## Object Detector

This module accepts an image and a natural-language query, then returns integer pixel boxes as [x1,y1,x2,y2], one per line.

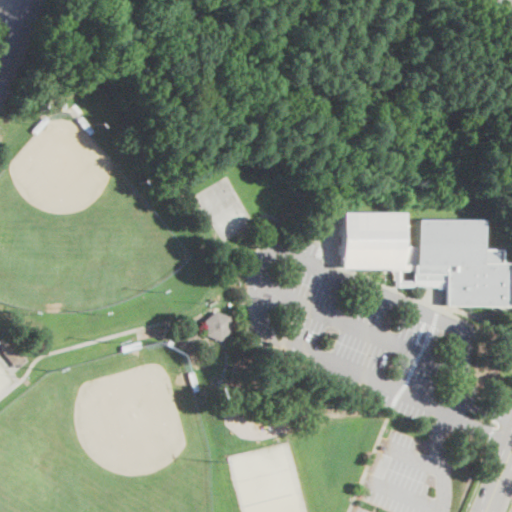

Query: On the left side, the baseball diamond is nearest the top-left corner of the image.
[0,114,190,313]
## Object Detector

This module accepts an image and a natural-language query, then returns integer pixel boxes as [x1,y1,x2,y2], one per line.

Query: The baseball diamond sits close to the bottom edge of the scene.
[0,346,210,512]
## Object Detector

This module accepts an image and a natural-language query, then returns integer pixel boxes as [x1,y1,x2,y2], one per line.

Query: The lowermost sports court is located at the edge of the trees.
[228,442,306,512]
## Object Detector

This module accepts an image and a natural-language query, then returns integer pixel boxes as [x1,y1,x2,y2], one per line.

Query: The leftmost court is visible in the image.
[196,177,251,242]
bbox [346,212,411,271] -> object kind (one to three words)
building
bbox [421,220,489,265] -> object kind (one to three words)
building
